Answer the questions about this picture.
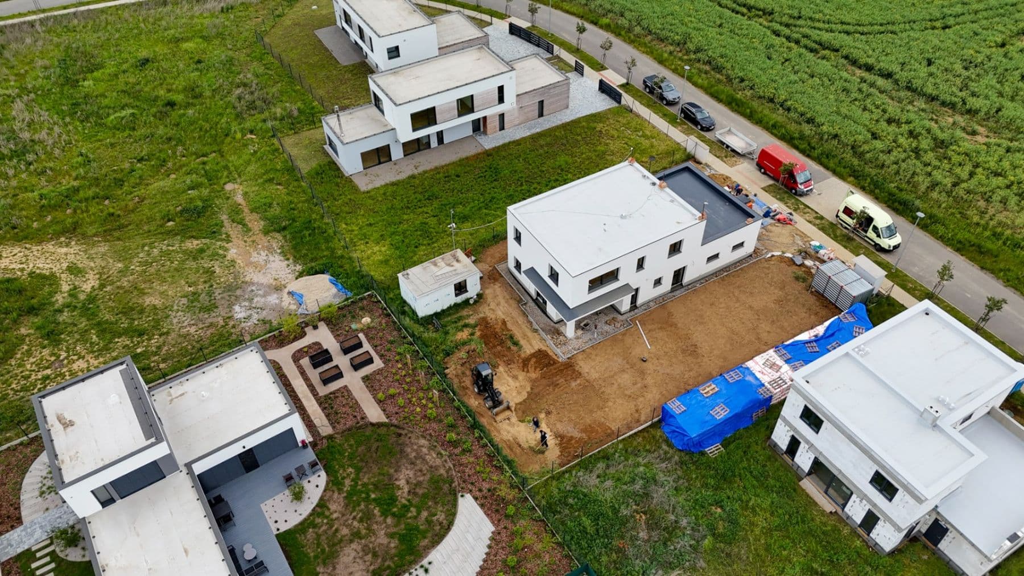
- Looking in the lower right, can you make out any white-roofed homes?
Yes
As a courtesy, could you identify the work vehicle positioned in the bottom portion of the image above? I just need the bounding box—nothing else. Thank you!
[469,360,517,427]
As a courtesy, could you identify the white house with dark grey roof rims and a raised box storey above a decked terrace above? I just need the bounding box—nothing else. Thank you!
[33,345,302,576]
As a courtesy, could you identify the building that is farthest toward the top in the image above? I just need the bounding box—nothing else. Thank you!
[328,0,490,72]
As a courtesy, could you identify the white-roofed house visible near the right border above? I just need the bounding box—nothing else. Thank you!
[766,299,1024,576]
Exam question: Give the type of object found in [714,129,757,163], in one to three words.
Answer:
trailer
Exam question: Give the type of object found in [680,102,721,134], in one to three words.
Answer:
car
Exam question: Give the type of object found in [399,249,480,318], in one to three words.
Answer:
building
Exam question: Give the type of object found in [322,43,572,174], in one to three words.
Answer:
house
